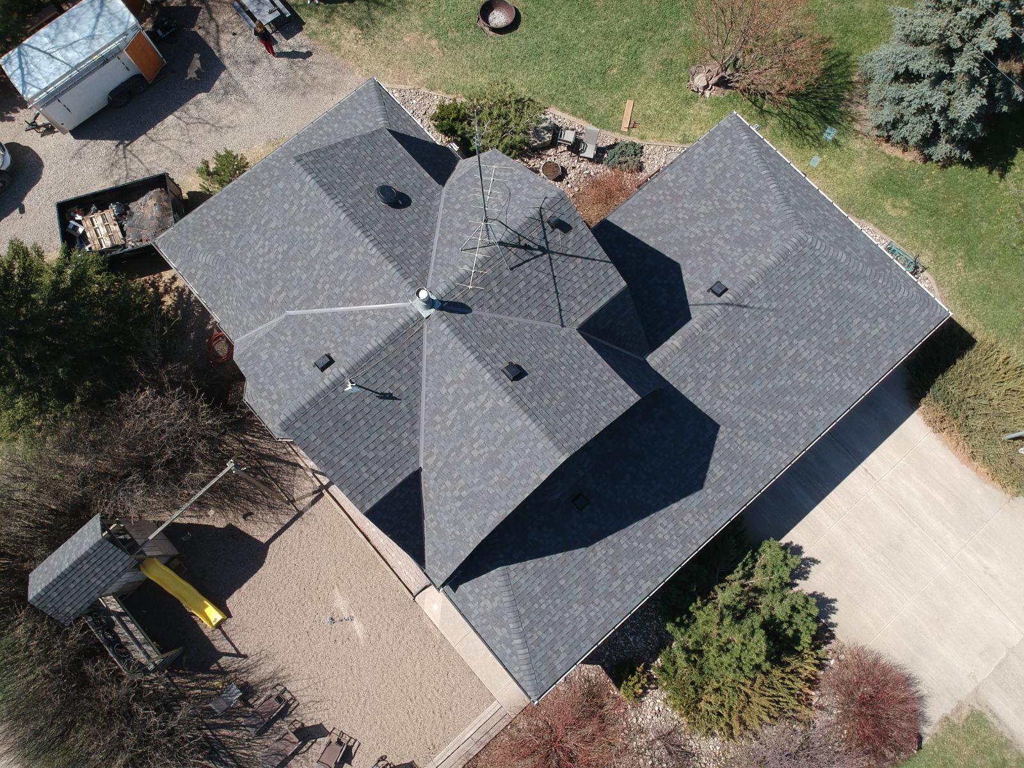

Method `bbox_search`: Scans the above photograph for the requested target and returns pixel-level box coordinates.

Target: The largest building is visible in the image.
[152,76,952,704]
